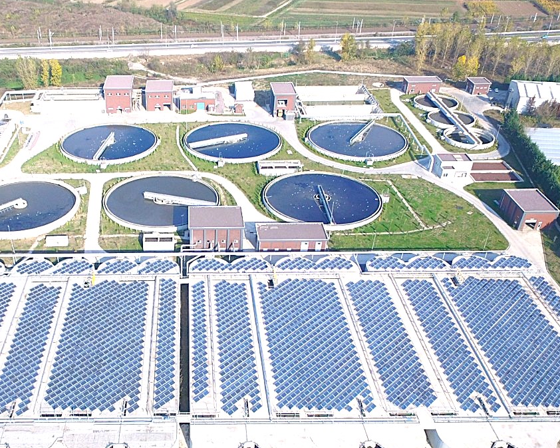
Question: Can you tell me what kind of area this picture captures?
industrial area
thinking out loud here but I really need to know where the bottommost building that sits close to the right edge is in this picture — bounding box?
[499,188,560,230]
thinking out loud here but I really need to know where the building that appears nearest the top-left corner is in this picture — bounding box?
[104,77,133,113]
